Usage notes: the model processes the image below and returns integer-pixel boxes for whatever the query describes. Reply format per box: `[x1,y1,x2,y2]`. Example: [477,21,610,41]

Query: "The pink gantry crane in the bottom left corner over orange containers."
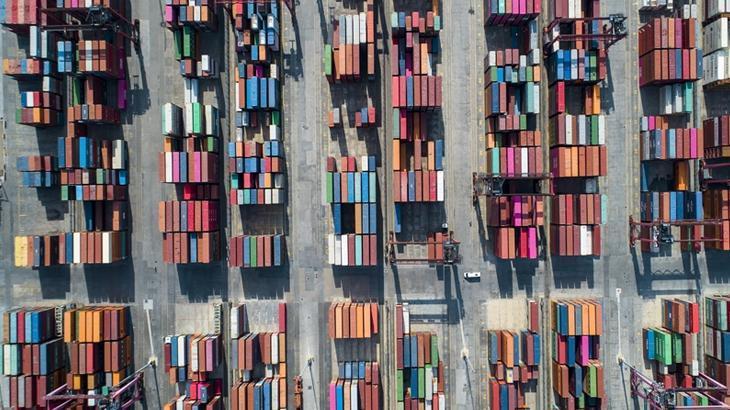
[41,372,146,410]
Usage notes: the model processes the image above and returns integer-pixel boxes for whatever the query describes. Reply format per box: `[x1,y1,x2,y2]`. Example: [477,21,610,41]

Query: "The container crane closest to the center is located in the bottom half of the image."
[385,232,465,264]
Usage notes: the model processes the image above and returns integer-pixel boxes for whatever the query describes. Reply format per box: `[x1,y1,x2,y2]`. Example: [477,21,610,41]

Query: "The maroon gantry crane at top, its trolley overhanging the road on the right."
[543,14,634,58]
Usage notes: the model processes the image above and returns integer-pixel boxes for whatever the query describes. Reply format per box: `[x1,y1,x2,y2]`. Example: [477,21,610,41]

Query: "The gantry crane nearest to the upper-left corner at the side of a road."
[35,5,140,50]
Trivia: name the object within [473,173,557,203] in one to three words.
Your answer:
container crane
